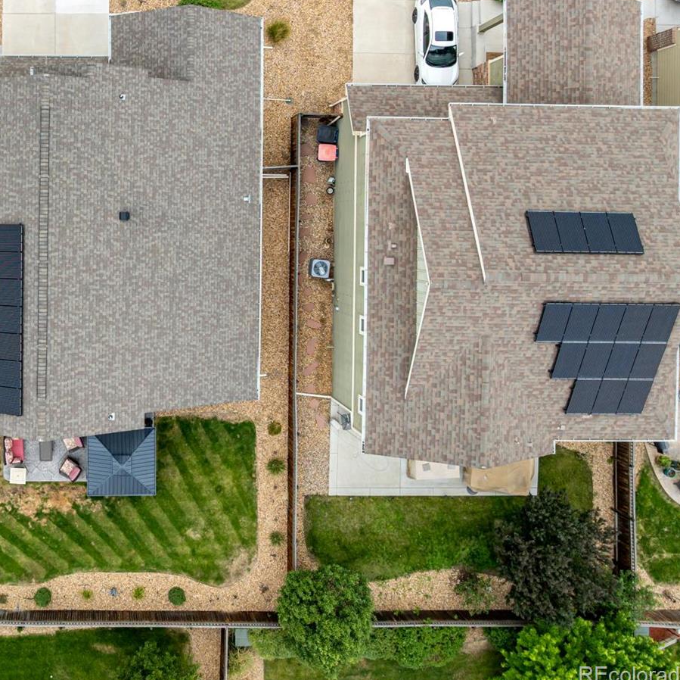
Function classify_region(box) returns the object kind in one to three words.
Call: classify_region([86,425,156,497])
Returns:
gazebo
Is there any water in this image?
No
